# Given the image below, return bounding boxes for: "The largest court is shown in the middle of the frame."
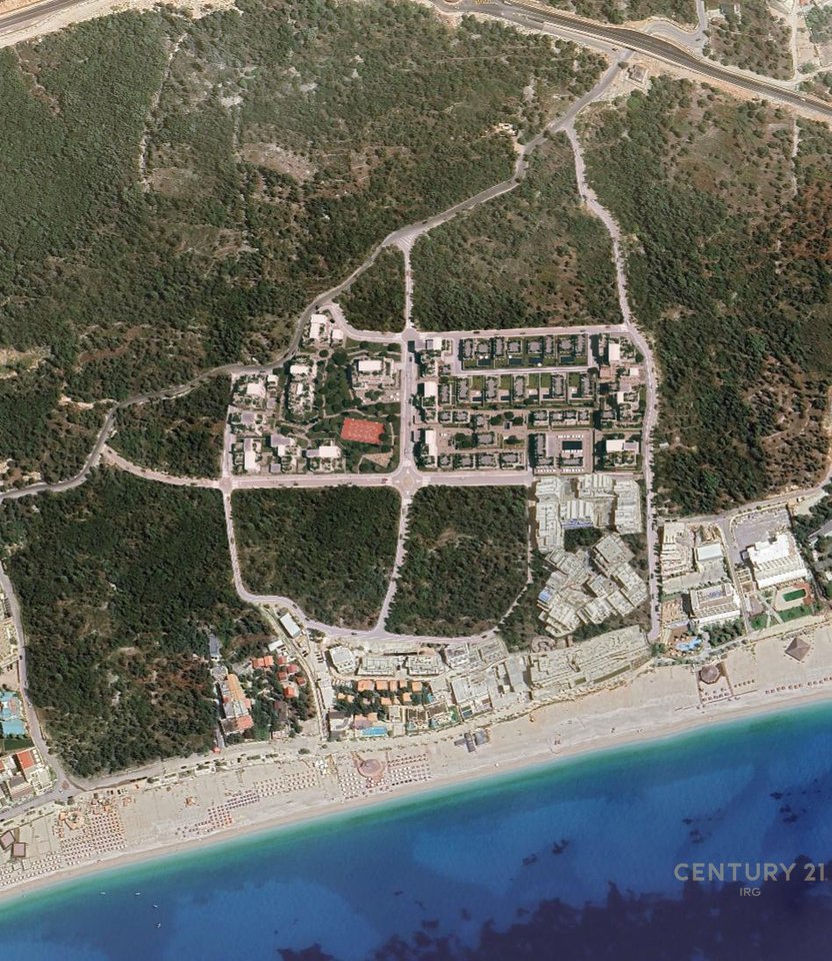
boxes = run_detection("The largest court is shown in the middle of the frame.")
[341,419,384,445]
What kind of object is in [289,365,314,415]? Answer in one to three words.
building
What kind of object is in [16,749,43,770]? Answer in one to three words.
house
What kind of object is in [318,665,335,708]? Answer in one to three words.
shed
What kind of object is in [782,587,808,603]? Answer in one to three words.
swimming pool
